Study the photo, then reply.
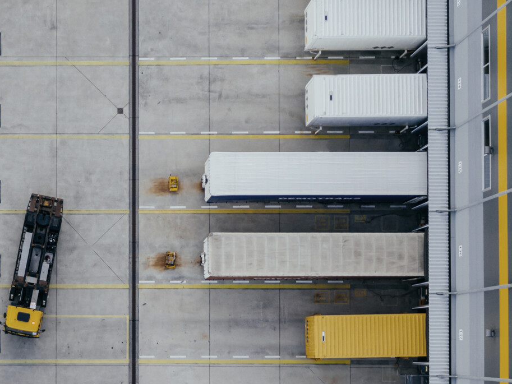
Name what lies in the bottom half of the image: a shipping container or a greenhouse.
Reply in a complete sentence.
You can see a shipping container in the bottom half of the image.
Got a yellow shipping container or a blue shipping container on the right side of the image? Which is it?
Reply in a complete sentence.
There is a yellow shipping container on the right side of the image.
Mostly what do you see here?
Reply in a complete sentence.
For the most part, this view shows paved ground.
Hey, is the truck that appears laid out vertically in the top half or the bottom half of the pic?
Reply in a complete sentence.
The truck that appears laid out vertically sits in the bottom half of the picture.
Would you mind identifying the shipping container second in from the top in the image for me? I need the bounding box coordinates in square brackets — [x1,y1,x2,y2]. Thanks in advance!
[305,74,427,133]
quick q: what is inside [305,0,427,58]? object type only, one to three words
shipping container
